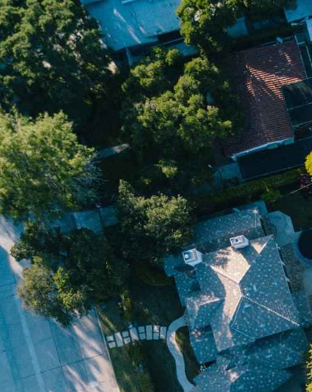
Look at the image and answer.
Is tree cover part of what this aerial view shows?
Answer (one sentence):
Yes, there is tree cover in the image.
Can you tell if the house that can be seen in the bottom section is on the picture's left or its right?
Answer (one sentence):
You can find the house that can be seen in the bottom section on the right side of the picture.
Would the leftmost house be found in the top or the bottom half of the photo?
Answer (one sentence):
You can find the leftmost house in the top half.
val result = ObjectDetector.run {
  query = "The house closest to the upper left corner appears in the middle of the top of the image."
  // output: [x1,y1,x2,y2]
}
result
[78,0,188,56]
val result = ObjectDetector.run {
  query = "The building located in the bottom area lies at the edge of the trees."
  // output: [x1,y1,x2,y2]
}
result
[164,208,308,392]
